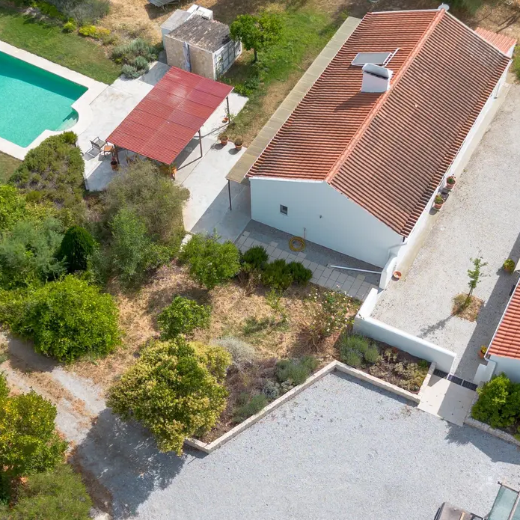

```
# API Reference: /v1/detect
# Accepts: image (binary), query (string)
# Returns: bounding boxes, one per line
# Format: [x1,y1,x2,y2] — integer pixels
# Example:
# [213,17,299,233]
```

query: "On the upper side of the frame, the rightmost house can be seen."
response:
[244,6,519,278]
